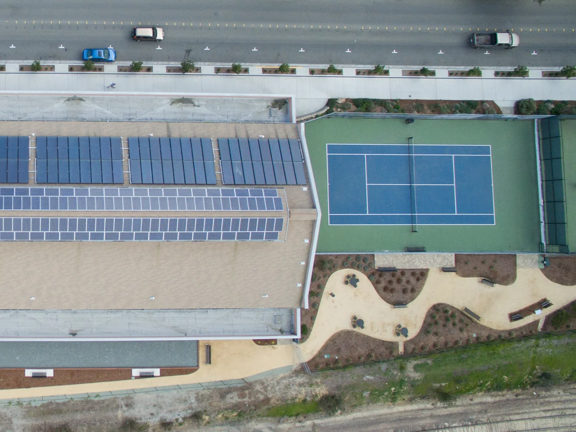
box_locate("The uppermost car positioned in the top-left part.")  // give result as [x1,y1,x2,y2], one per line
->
[131,26,164,42]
